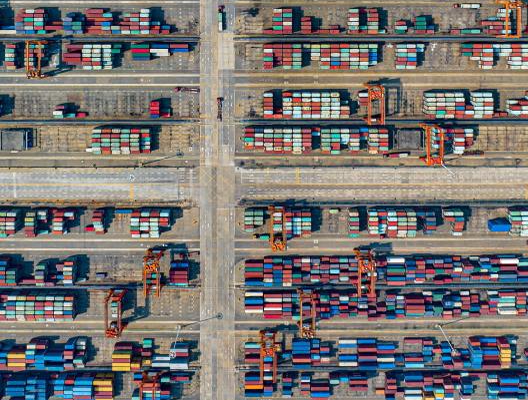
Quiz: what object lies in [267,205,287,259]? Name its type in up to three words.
container crane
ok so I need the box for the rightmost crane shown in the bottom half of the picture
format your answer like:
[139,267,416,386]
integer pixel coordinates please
[351,244,374,298]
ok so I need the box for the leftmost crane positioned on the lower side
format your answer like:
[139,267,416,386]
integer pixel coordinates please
[107,285,133,342]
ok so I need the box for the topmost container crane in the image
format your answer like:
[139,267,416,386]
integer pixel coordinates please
[490,0,519,42]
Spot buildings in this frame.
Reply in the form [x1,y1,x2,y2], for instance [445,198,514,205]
[0,130,31,153]
[392,130,426,152]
